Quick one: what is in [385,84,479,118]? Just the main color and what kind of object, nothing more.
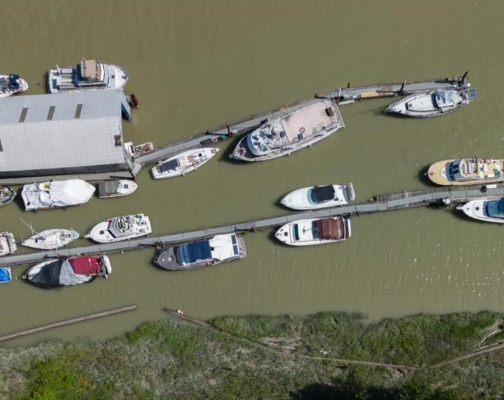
white boat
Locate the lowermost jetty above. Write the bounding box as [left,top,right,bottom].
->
[0,183,504,266]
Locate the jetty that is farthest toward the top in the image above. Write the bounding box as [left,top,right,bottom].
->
[134,75,470,166]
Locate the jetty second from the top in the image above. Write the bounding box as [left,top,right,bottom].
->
[0,168,133,186]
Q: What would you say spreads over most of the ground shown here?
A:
water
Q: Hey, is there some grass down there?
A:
Yes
